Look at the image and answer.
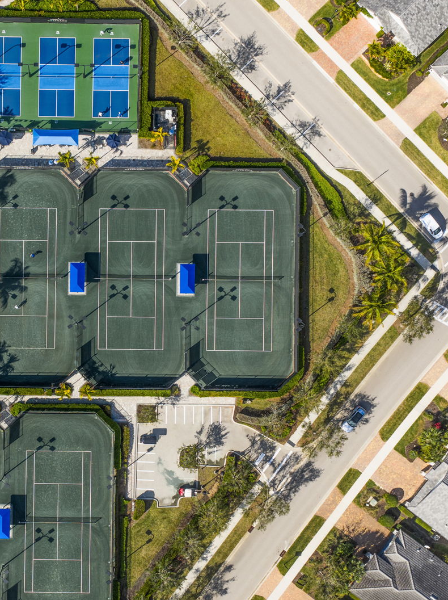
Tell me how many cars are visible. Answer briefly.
two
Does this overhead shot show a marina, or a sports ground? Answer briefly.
sports ground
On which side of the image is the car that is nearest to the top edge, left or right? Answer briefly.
right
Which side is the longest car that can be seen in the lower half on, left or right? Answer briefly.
right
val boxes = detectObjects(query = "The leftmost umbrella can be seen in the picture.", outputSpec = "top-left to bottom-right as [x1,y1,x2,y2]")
[0,131,12,147]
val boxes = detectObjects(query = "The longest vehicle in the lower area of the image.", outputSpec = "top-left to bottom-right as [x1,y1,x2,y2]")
[341,405,366,432]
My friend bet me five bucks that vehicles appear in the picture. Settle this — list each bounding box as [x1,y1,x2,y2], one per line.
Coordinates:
[341,405,366,432]
[142,434,158,443]
[419,210,442,241]
[180,486,196,495]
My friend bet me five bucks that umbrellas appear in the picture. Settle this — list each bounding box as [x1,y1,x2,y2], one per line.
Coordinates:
[0,131,12,147]
[105,133,120,149]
